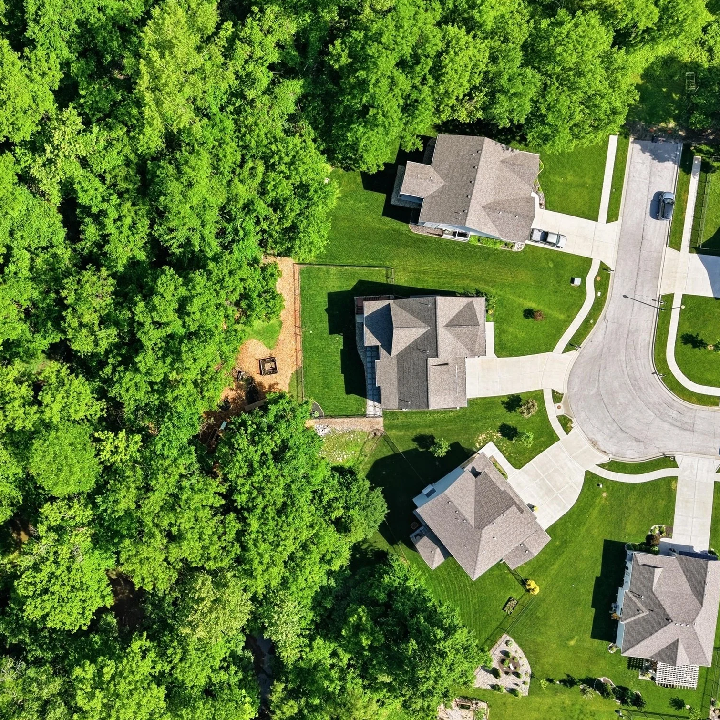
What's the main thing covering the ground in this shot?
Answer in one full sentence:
The largest share of the image is taken up by trees.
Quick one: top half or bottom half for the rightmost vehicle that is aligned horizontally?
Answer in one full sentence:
You can find the rightmost vehicle that is aligned horizontally in the top half.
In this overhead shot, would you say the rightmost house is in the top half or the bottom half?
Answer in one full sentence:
You can find the rightmost house in the bottom half.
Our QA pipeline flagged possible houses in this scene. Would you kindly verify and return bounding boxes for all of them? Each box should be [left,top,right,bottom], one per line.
[414,452,551,581]
[363,296,486,409]
[400,134,540,243]
[615,551,720,667]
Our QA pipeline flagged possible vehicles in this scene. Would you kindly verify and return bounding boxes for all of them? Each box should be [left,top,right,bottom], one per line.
[529,228,568,248]
[657,191,676,221]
